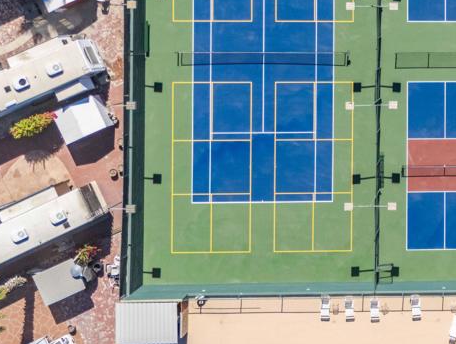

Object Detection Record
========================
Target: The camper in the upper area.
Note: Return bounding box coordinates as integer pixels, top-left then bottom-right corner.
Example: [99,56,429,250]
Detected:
[0,30,118,129]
